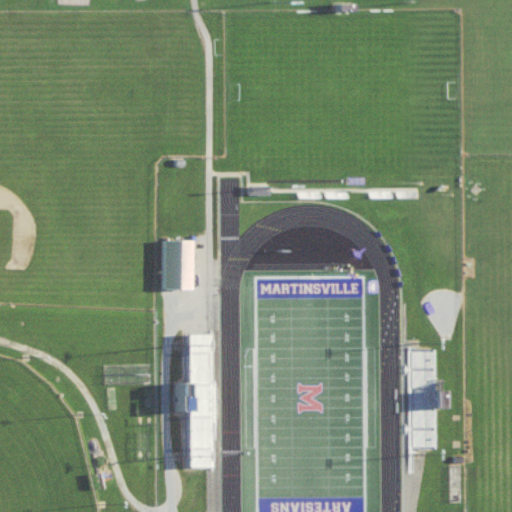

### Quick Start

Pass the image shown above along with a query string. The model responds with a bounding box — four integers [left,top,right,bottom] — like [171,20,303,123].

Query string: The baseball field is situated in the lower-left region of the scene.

[0,355,100,512]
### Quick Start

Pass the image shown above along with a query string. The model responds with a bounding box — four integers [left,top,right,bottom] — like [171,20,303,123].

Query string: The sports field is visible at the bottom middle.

[240,271,380,512]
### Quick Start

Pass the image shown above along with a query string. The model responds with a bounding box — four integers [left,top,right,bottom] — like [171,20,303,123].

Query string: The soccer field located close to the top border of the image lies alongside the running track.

[225,12,460,178]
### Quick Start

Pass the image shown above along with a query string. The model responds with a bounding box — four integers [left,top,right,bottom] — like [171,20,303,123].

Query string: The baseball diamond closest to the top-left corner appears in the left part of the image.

[0,186,36,270]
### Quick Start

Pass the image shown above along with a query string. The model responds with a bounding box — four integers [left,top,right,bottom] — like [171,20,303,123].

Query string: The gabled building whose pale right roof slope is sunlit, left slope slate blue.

[163,240,196,291]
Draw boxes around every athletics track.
[220,178,400,512]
